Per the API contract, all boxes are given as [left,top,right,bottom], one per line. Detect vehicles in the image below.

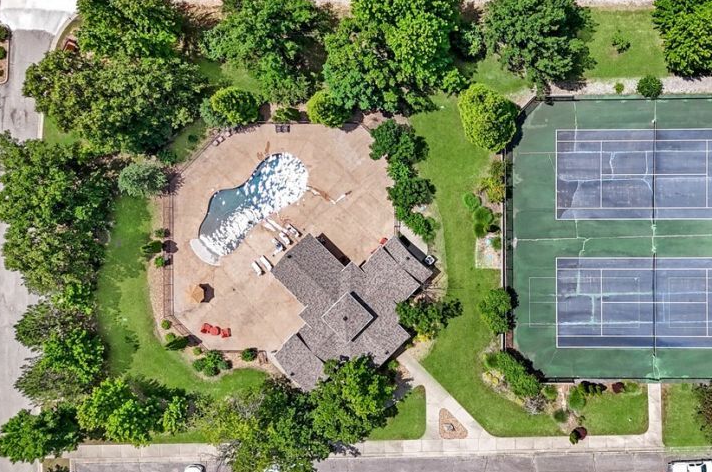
[185,464,206,472]
[668,458,712,472]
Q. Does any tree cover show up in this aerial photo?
Yes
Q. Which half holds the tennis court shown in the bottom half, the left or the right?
right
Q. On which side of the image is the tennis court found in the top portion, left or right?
right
